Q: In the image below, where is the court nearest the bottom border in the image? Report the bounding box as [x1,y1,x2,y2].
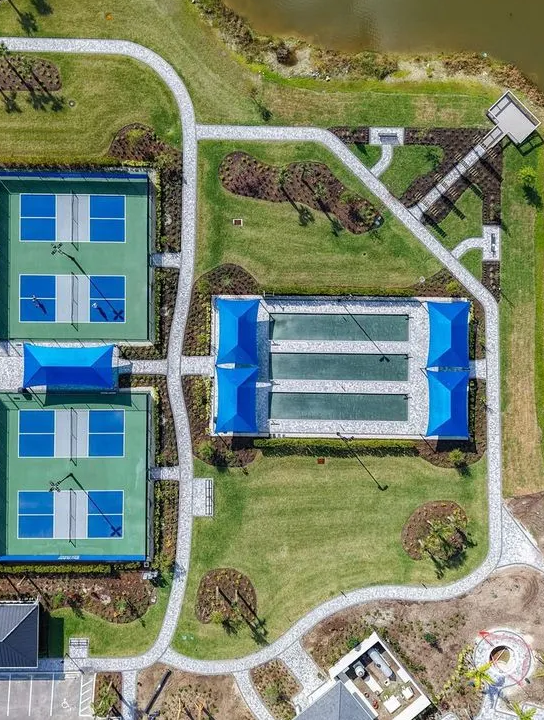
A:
[18,490,124,539]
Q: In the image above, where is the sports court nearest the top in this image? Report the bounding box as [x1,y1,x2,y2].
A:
[20,193,126,242]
